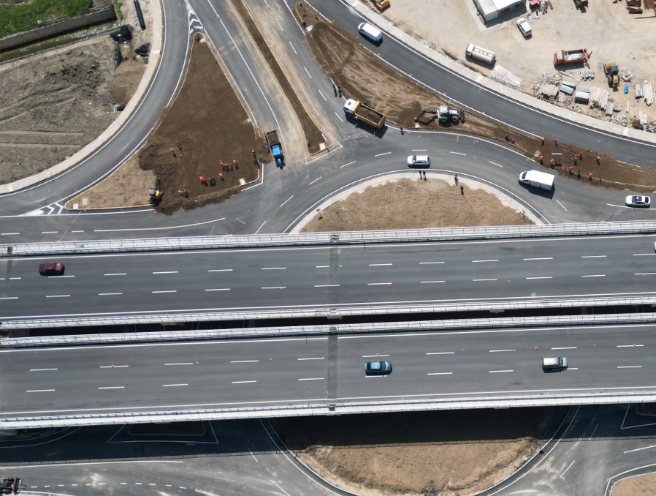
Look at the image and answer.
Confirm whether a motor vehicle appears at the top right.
Yes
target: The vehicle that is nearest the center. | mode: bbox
[270,146,286,168]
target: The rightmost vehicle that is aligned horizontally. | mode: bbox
[625,194,650,207]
